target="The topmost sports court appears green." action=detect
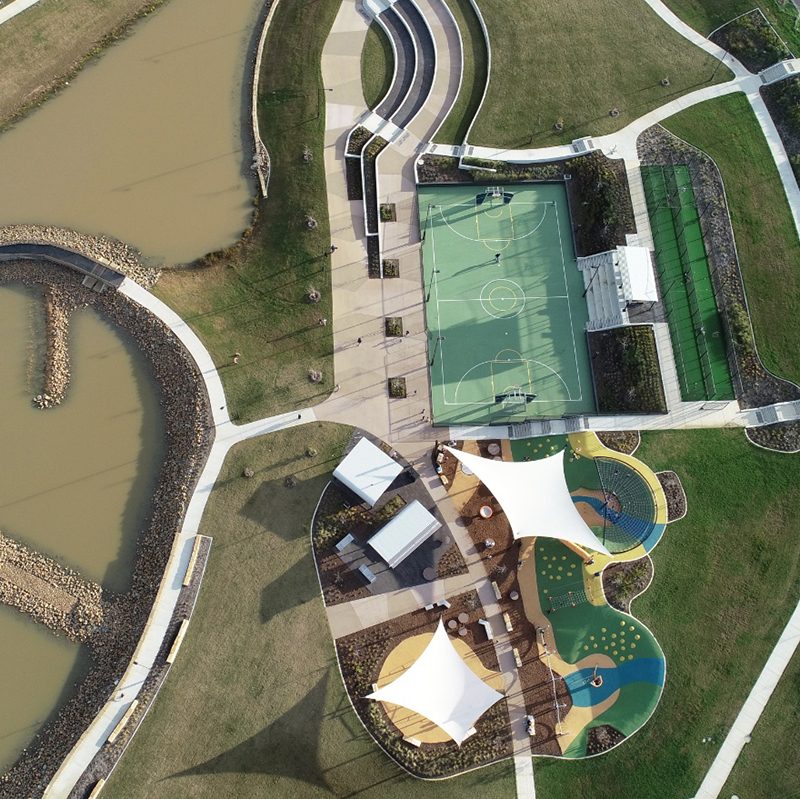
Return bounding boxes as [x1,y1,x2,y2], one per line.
[418,186,594,426]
